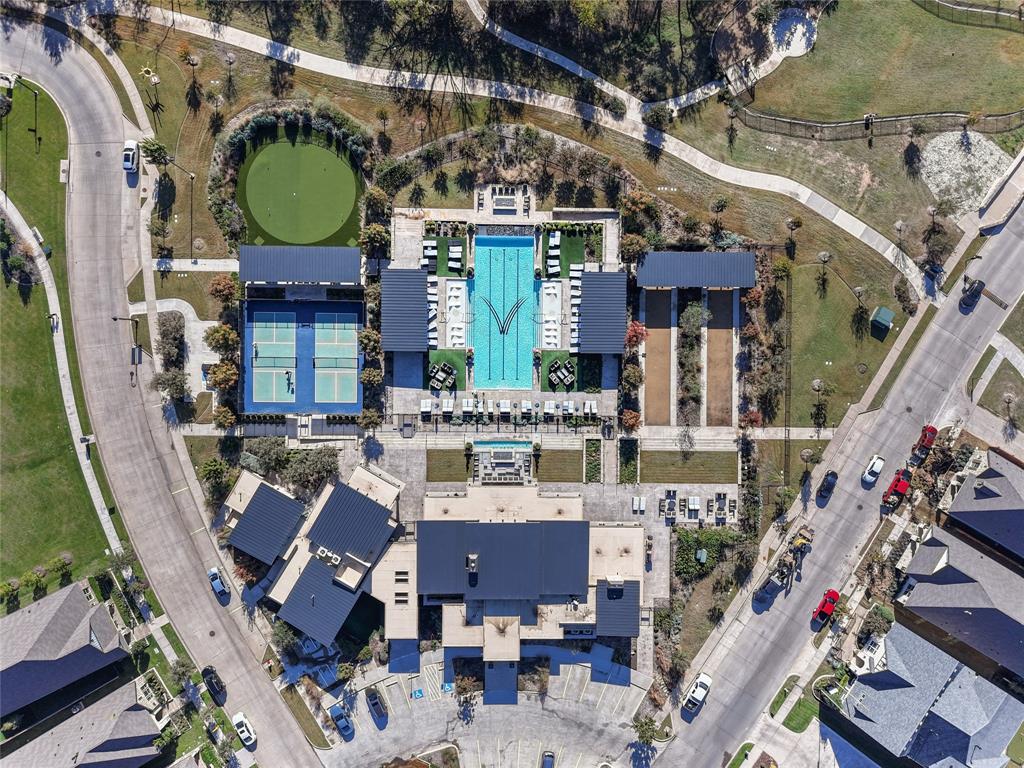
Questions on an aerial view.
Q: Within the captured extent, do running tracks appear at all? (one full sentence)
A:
No, no running track is visible in the view.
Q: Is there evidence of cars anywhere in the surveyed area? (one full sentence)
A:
Yes, a car can be made out from above.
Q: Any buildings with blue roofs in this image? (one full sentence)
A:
Yes, there is a building with a blue roof in the image.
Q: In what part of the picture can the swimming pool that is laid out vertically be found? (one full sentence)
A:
The swimming pool that is laid out vertically is located in the center region of the scene.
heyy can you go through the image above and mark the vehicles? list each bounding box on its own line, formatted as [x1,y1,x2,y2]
[863,454,888,485]
[683,674,712,717]
[817,468,840,500]
[961,276,987,308]
[329,705,355,742]
[790,526,816,555]
[205,567,230,600]
[119,139,137,172]
[814,589,841,626]
[200,667,225,701]
[884,468,914,508]
[230,715,255,748]
[365,689,388,722]
[911,421,942,461]
[541,752,556,768]
[755,574,786,615]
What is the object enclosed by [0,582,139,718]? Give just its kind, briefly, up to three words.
house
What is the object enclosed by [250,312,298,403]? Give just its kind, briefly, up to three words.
sports court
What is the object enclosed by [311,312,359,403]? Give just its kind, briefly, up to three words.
sports court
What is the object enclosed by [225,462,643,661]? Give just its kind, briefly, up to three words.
building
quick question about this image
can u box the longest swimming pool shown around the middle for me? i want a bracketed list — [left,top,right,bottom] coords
[472,225,536,391]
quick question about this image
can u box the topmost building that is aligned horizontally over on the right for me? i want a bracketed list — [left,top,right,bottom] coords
[637,252,756,291]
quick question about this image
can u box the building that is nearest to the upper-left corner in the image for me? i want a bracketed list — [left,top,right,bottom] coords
[237,246,361,288]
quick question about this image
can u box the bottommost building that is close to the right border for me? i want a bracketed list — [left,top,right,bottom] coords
[836,622,1024,768]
